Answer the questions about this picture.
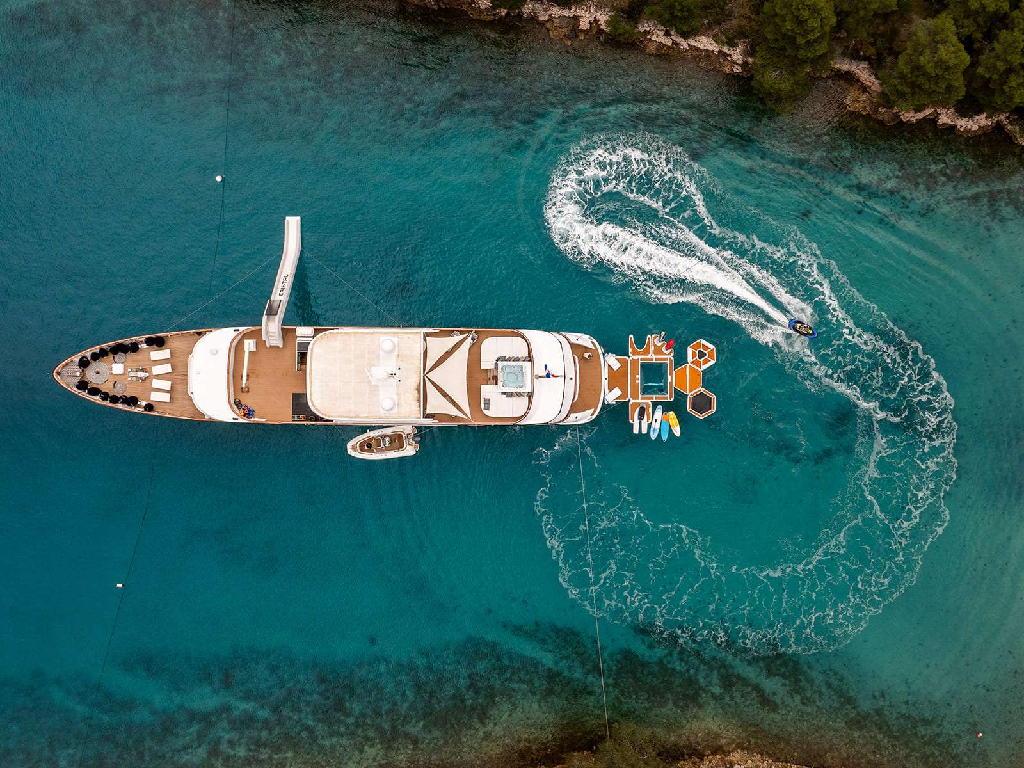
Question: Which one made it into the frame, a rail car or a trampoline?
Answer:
trampoline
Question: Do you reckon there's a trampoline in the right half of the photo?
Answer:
Yes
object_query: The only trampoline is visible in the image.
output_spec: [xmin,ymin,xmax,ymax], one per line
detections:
[688,388,715,419]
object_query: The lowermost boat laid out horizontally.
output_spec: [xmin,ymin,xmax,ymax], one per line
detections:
[347,425,420,459]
